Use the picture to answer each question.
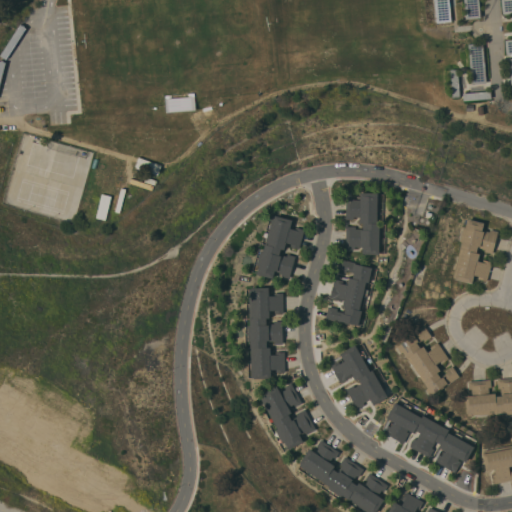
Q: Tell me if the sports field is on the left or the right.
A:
left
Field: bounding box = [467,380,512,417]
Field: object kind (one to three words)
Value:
house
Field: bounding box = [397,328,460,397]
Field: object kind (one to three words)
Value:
house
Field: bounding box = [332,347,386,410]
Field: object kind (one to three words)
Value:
building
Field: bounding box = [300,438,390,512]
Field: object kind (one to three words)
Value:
building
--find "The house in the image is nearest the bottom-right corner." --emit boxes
[484,450,512,486]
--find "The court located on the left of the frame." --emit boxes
[6,134,94,219]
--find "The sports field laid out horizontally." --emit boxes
[86,0,268,75]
